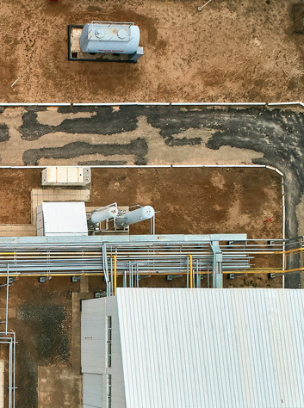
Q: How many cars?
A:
zero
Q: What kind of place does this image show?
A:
industrial area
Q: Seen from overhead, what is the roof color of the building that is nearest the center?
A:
white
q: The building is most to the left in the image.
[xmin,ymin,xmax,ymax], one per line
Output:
[38,201,88,236]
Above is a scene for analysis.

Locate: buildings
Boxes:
[38,201,88,236]
[82,286,304,408]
